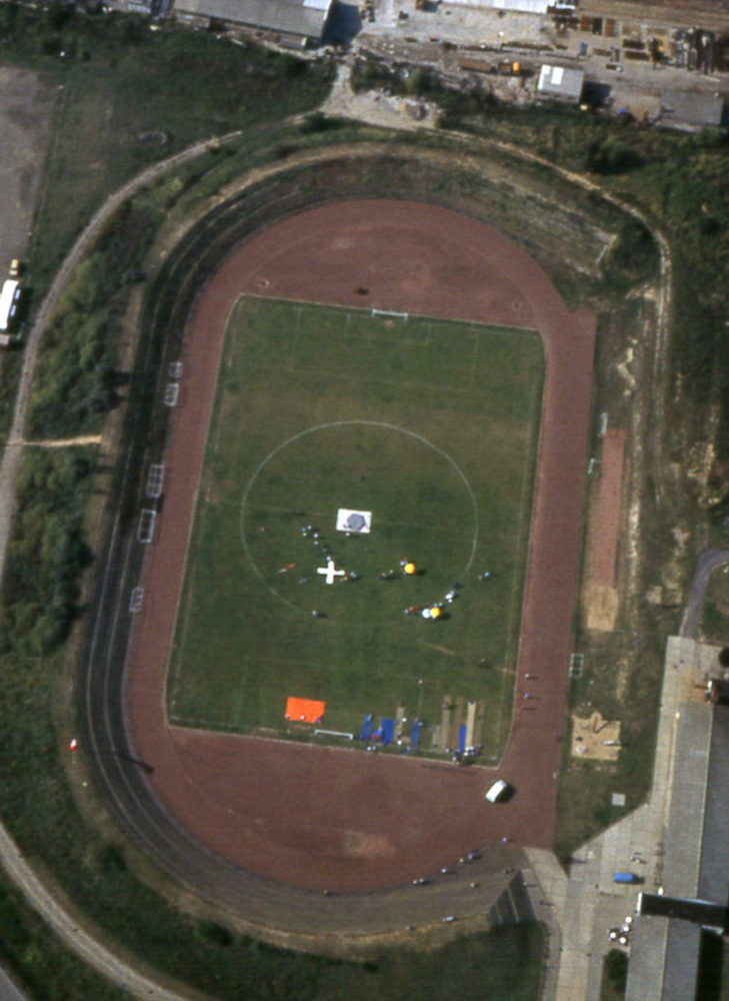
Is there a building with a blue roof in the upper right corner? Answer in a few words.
No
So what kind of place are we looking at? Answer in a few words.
sports ground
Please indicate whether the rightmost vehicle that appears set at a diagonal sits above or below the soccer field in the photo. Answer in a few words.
below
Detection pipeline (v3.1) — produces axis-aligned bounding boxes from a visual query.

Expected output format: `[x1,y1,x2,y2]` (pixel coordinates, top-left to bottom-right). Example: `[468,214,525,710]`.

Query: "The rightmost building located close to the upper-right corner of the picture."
[656,92,724,132]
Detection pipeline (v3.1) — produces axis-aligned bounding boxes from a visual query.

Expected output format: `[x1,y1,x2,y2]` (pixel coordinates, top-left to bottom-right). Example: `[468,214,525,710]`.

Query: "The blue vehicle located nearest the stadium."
[613,872,635,886]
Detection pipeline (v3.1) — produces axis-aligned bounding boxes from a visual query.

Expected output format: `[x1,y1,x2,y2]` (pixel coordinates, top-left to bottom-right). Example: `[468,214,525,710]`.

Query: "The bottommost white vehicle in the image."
[486,782,507,806]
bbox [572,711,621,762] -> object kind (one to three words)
playground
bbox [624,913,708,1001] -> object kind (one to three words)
building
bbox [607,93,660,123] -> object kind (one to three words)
shed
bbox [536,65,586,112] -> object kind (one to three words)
shed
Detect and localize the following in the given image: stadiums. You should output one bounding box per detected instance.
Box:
[75,155,609,931]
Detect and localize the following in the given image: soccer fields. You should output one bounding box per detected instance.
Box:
[163,294,545,768]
